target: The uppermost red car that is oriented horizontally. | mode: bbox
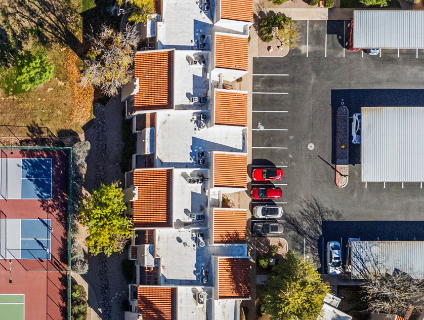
[253,166,286,181]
